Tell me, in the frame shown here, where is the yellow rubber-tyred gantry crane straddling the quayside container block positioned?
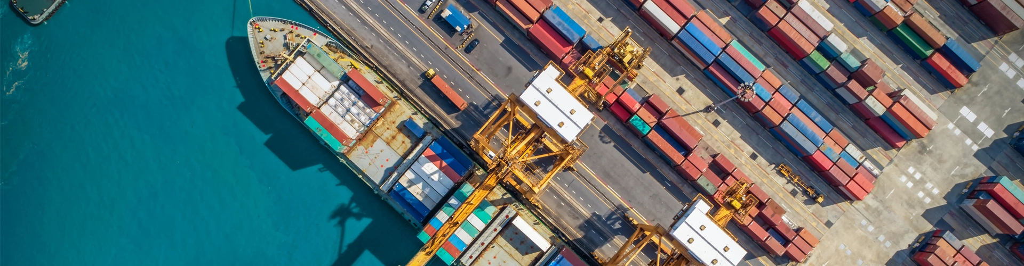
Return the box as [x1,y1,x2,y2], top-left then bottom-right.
[582,25,654,108]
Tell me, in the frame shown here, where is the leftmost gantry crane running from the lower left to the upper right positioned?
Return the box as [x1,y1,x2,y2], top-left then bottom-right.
[403,47,612,266]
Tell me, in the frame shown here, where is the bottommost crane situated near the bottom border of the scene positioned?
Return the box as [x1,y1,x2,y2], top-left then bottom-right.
[597,181,763,266]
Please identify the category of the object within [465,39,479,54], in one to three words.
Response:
car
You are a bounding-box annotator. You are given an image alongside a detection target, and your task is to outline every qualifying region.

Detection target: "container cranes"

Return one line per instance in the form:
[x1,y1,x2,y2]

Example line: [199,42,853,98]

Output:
[597,181,763,266]
[403,47,612,266]
[582,25,654,108]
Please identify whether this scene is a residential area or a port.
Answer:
port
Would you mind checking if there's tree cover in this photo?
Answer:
No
